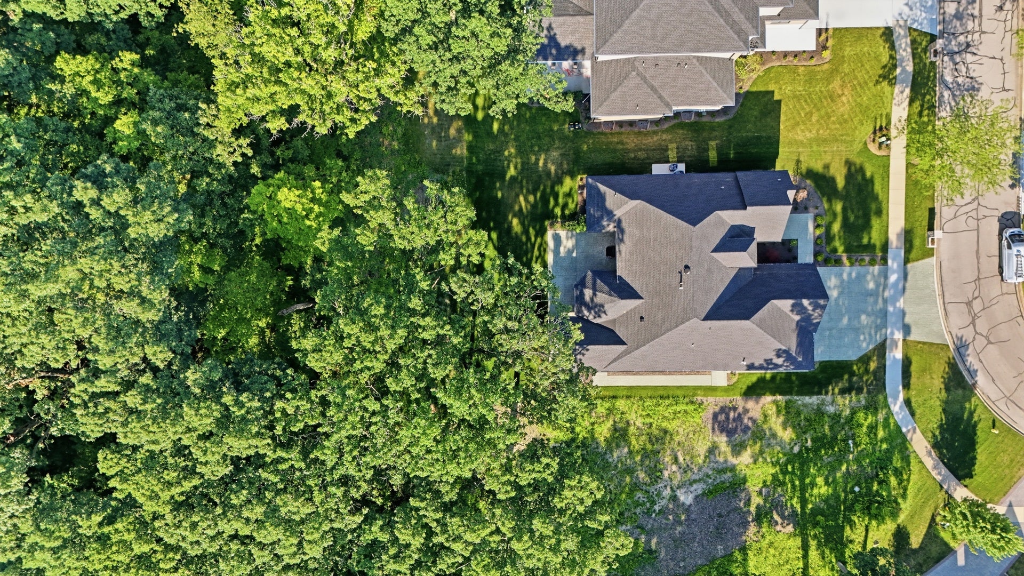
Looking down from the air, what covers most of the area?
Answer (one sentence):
The largest share of the image is taken up by trees.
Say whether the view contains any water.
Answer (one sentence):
No, the picture contains no water.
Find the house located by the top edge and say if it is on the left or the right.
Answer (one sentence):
You can find the house located by the top edge on the right side of the picture.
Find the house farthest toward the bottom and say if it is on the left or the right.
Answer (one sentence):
You can find the house farthest toward the bottom on the right side of the picture.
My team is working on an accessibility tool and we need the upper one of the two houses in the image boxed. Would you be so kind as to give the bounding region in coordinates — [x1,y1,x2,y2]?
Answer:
[523,0,819,132]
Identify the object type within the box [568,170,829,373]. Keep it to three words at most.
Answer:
house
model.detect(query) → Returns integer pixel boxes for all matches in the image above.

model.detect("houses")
[568,170,829,373]
[523,0,819,132]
